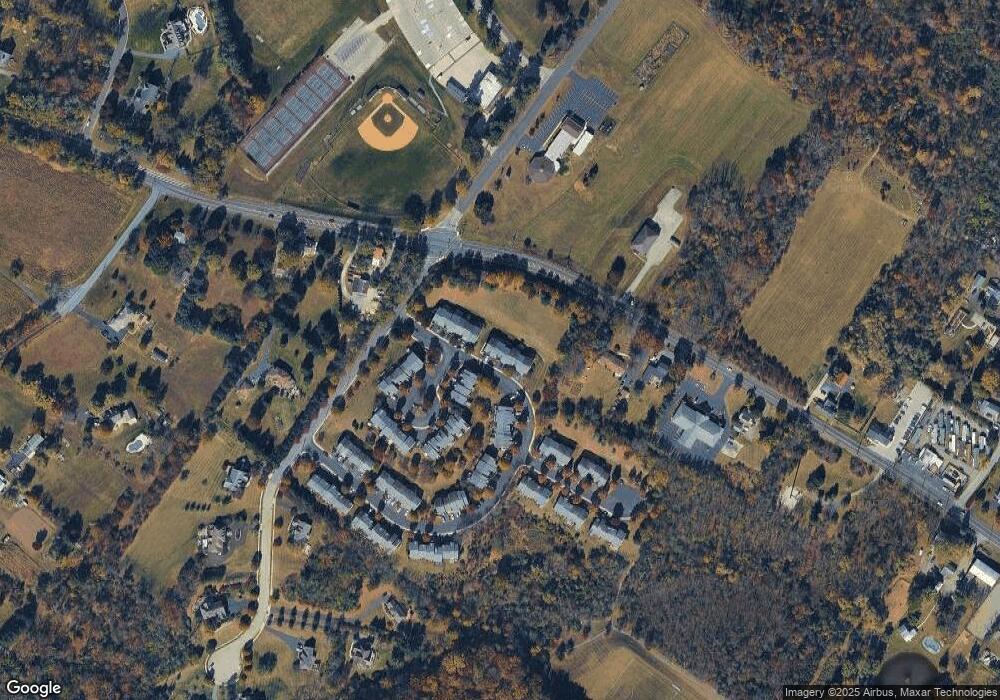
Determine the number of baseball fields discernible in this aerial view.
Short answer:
1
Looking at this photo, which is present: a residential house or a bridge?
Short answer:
residential house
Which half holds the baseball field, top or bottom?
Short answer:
top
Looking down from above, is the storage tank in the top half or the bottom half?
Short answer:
bottom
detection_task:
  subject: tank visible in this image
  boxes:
[877,651,938,700]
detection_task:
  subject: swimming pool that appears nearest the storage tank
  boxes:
[922,637,941,652]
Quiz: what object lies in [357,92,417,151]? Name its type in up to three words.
baseball field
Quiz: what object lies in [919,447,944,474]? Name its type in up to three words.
building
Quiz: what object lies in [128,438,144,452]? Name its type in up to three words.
swimming pool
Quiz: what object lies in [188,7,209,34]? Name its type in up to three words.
swimming pool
